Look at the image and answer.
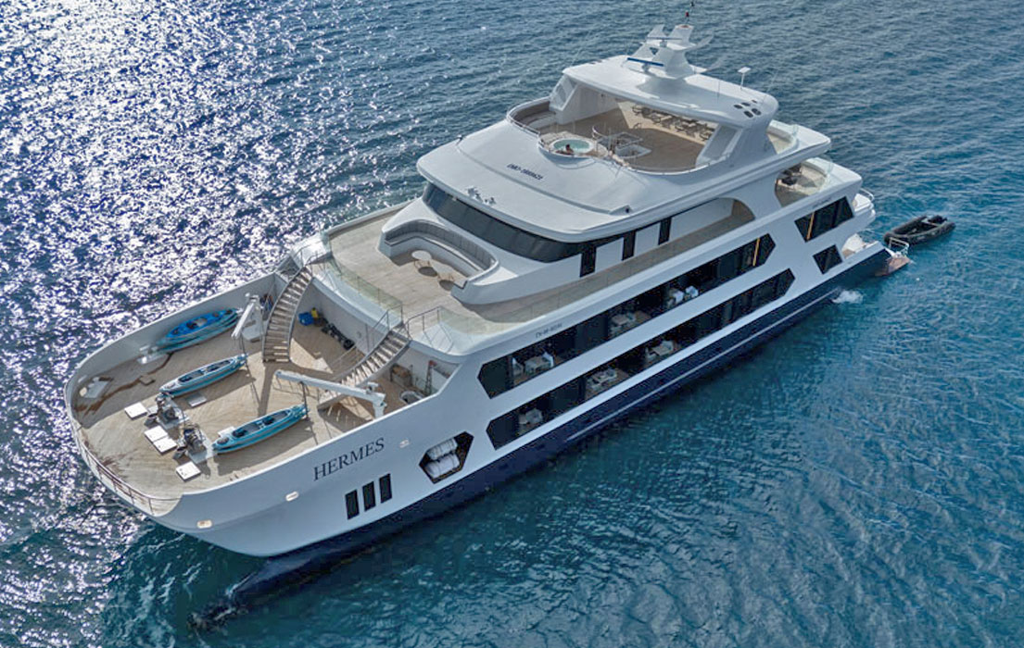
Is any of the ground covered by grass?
No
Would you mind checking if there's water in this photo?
Yes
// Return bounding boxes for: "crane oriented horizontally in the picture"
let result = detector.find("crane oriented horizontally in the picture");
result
[277,369,397,420]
